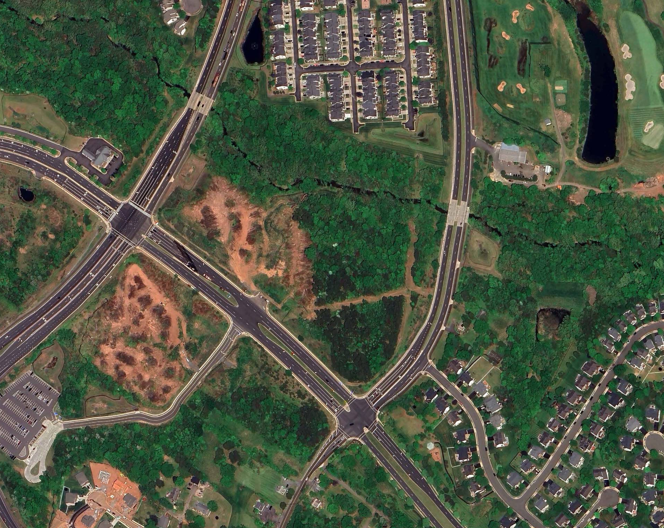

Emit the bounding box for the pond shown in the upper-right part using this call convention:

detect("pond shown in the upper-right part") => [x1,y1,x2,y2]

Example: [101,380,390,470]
[566,0,618,163]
